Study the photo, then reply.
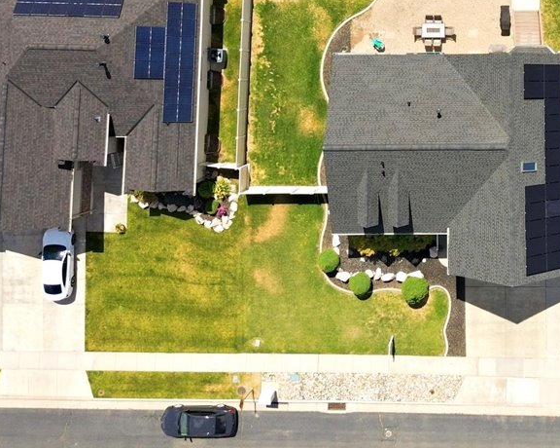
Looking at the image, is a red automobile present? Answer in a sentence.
No, there's no red automobile here.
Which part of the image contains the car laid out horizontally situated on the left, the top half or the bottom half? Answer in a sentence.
It is in the bottom half that the car laid out horizontally situated on the left appears.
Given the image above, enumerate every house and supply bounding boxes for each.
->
[0,0,216,231]
[323,43,560,287]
